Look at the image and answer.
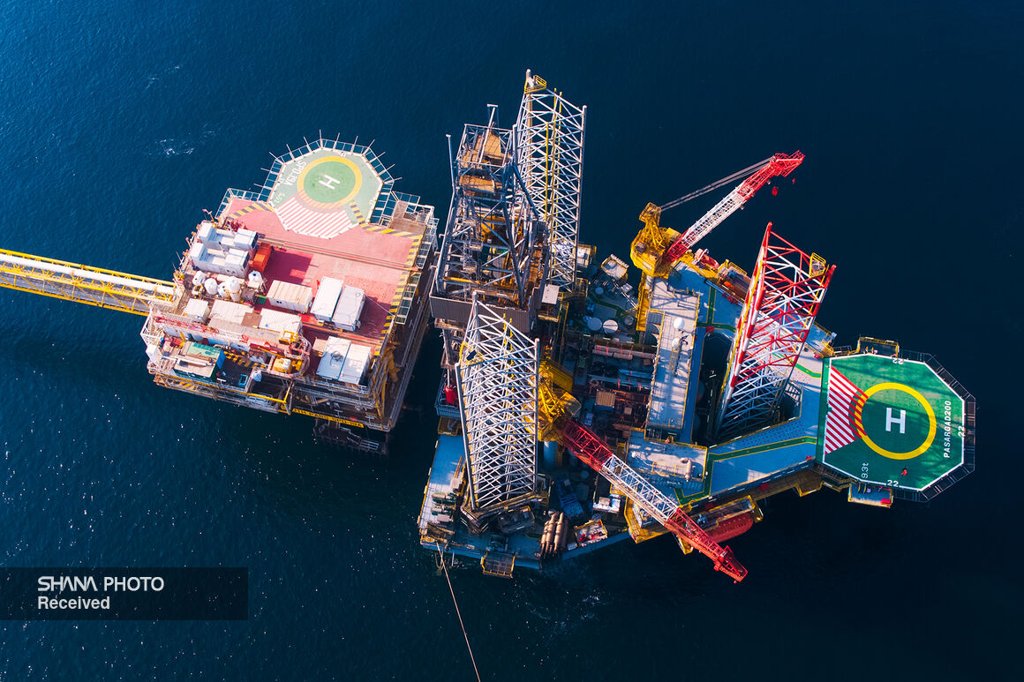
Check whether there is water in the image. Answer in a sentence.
Yes, the picture does contain water.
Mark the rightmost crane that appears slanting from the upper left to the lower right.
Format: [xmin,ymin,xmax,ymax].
[510,351,749,584]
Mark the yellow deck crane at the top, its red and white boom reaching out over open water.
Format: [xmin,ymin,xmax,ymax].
[619,147,807,324]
